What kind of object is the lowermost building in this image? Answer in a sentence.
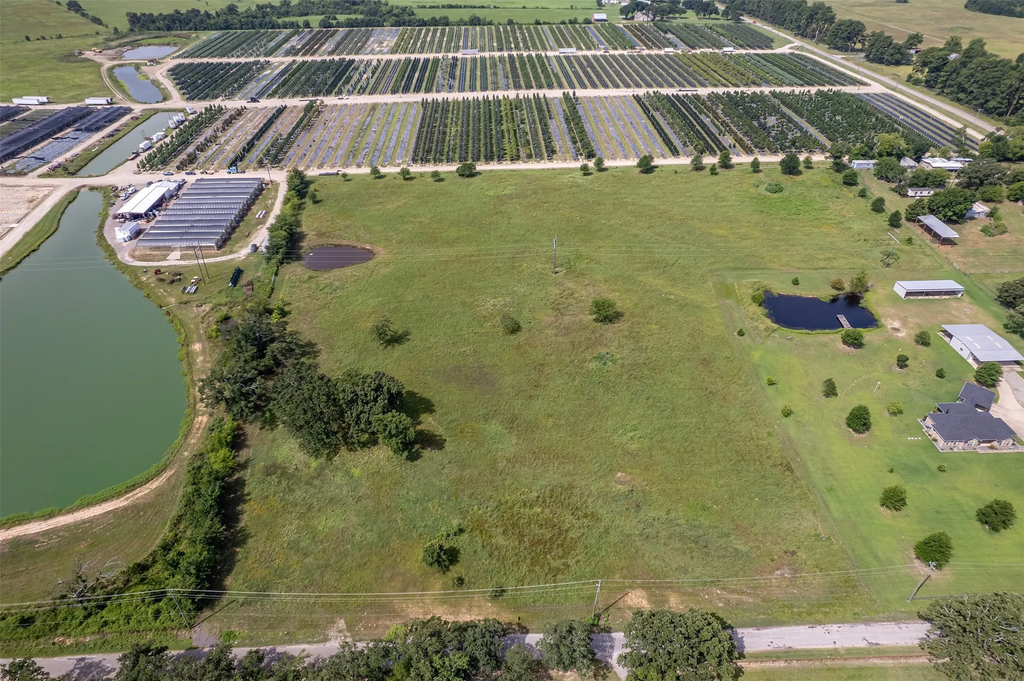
It looks like the lowermost building is a home.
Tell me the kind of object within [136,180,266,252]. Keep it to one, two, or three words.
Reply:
greenhouse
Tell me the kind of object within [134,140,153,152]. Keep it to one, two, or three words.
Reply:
vehicle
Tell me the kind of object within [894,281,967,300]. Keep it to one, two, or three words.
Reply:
shed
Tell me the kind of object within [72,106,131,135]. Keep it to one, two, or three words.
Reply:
house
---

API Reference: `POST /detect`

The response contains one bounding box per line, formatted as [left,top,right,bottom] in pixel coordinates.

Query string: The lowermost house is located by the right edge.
[915,377,1022,446]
